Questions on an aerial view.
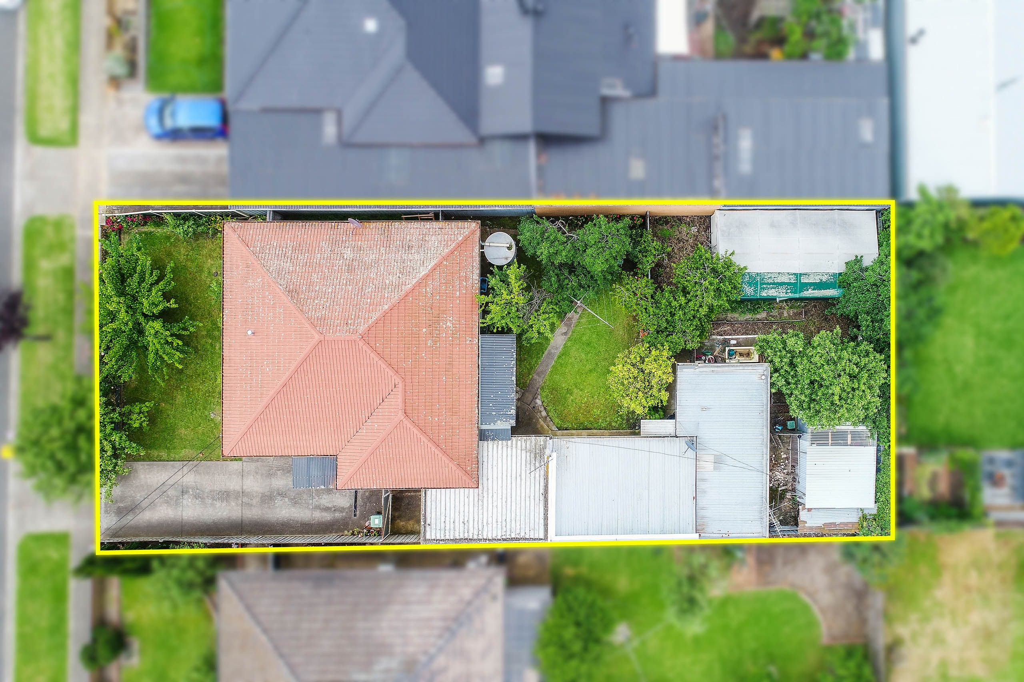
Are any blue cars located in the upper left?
Yes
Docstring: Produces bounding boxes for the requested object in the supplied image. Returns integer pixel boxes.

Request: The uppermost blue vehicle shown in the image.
[146,91,228,139]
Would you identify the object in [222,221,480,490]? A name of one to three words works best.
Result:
house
